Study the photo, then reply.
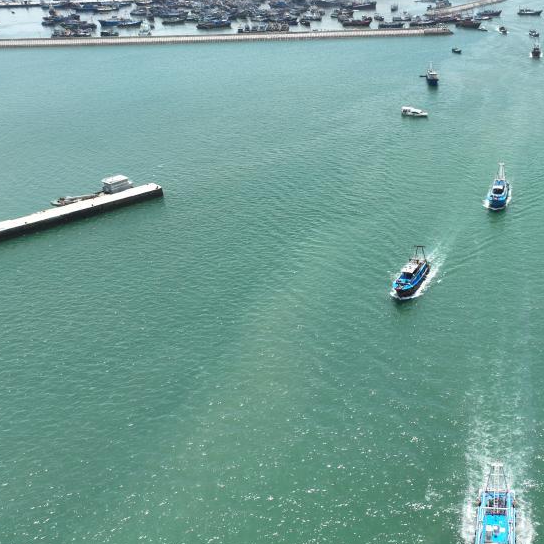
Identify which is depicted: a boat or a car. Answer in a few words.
boat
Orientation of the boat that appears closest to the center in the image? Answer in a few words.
at an angle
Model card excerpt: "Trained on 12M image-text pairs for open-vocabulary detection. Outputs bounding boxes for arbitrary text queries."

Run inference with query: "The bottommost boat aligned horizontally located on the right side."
[399,104,428,117]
